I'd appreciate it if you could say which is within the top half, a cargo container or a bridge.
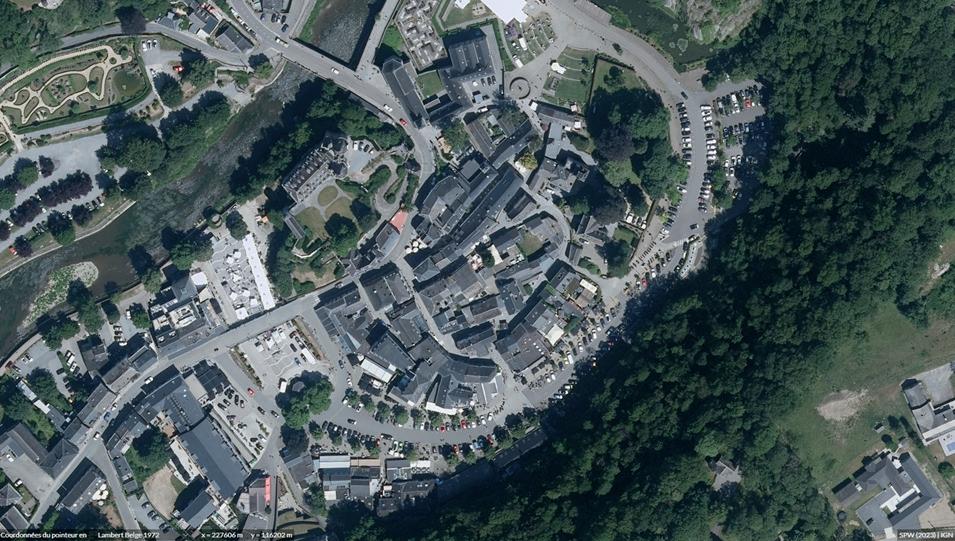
bridge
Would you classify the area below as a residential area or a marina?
residential area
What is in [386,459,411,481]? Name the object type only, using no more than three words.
building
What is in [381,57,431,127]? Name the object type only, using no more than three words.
building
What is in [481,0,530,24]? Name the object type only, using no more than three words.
tent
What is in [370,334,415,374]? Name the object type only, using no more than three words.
house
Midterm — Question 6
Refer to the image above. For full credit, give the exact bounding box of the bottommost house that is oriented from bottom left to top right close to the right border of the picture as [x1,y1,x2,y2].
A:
[888,495,943,531]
